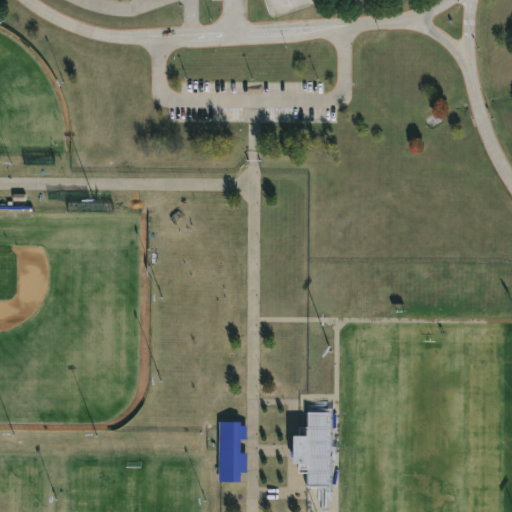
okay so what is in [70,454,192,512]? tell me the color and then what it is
green soccer field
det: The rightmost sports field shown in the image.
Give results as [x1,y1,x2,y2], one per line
[340,323,512,512]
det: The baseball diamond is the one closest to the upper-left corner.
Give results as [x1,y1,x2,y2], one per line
[0,26,72,160]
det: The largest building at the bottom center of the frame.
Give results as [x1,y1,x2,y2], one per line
[218,422,248,482]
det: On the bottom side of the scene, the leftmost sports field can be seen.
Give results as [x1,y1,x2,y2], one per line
[0,456,52,512]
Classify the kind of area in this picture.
sports ground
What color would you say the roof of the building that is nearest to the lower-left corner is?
blue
